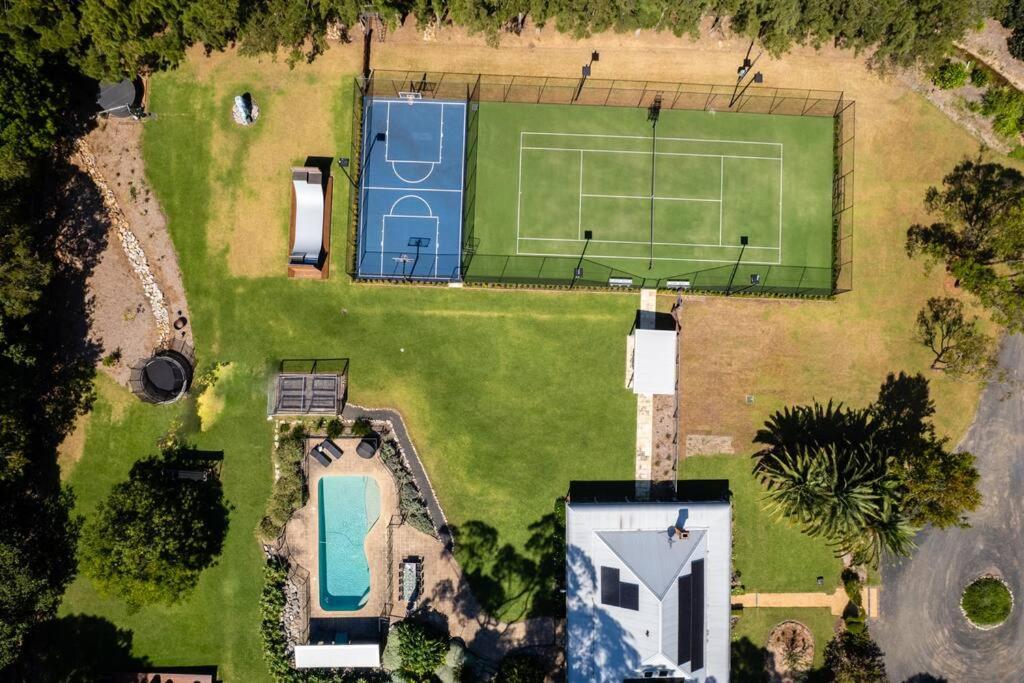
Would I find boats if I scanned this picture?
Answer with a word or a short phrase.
No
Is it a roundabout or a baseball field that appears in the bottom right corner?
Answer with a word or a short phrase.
roundabout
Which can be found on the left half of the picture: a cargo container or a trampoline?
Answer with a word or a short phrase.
trampoline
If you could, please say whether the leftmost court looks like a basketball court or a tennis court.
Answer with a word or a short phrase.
basketball court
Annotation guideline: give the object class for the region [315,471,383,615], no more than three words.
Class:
swimming pool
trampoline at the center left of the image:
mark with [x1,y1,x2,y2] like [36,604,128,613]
[128,356,190,406]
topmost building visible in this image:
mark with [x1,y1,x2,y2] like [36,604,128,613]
[627,326,677,394]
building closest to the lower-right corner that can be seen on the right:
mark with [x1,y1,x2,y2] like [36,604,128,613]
[565,497,731,683]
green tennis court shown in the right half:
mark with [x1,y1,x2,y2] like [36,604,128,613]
[461,99,834,294]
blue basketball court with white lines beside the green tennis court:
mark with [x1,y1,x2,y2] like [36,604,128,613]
[356,96,467,281]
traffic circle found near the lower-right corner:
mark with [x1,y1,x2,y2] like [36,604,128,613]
[959,575,1015,629]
